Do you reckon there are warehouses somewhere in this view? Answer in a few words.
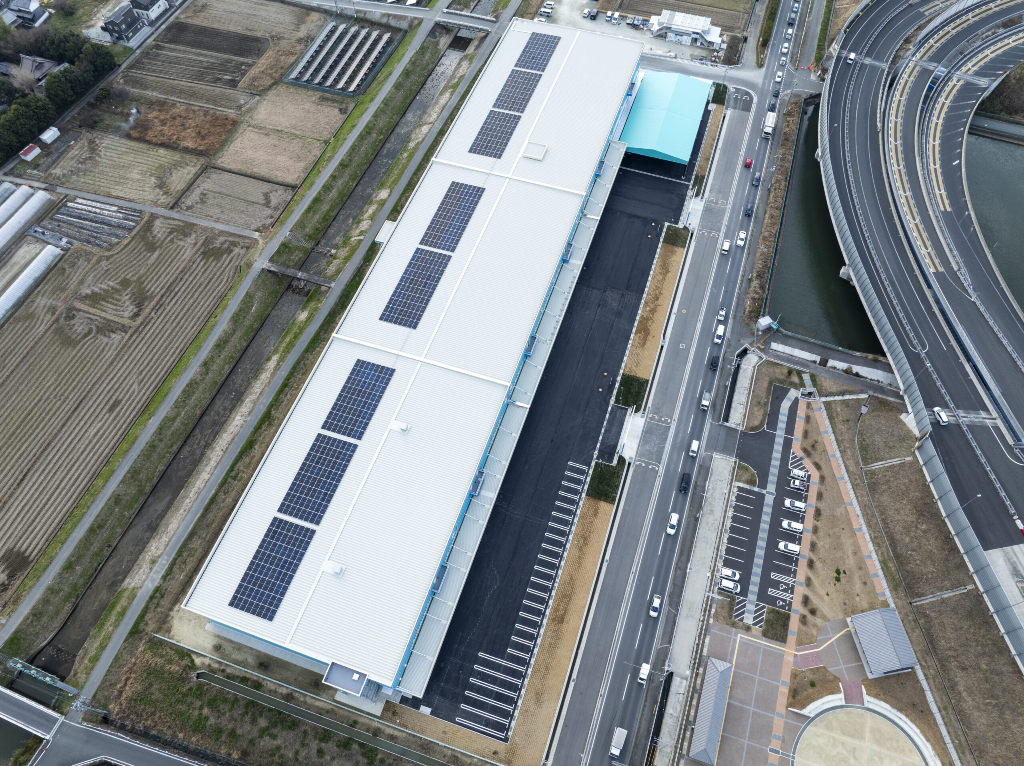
Yes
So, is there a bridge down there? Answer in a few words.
Yes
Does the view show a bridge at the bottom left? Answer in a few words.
Yes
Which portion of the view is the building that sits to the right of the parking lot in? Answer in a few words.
bottom right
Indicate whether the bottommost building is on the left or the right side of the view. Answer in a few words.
right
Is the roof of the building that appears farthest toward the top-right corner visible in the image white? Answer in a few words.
Yes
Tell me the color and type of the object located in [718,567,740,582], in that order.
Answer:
white car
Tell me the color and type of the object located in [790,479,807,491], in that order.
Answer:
white vehicle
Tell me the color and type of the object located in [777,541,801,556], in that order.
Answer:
white car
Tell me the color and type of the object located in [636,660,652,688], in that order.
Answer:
white vehicle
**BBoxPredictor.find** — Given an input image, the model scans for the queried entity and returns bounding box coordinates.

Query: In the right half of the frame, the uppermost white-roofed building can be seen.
[648,8,721,51]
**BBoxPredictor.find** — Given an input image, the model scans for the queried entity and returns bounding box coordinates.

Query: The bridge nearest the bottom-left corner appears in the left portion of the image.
[0,684,65,740]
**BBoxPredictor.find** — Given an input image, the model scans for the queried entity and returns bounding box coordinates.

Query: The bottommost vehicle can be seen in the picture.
[609,725,628,760]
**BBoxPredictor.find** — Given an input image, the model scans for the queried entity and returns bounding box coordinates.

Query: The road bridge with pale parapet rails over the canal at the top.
[435,6,497,32]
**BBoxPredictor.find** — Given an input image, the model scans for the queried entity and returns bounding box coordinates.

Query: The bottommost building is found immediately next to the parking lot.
[689,657,733,766]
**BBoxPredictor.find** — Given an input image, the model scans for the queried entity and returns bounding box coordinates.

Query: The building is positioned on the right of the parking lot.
[848,607,917,682]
